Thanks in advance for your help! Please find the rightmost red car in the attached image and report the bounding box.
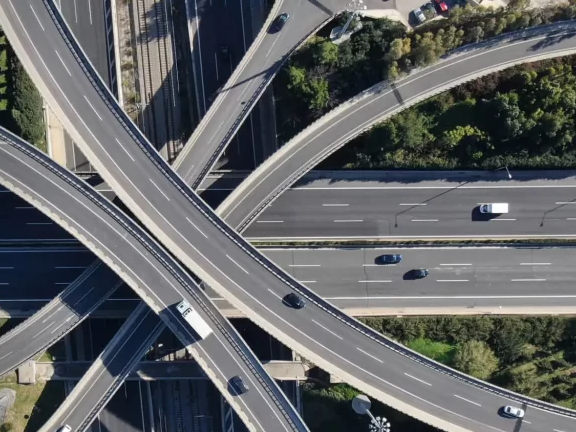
[436,0,449,14]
